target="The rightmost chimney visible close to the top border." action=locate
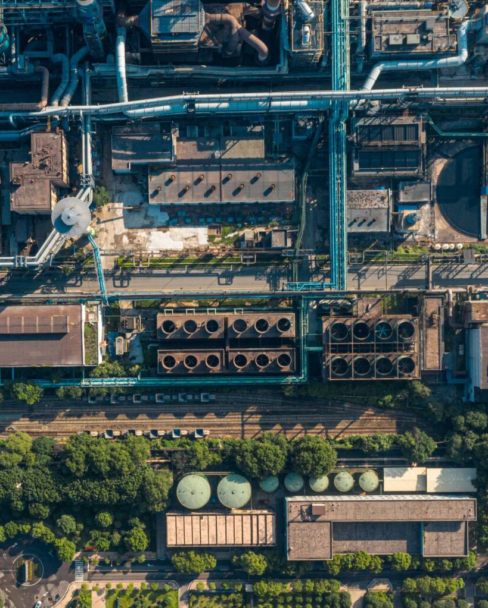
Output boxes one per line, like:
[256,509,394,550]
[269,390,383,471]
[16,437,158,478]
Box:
[254,0,284,40]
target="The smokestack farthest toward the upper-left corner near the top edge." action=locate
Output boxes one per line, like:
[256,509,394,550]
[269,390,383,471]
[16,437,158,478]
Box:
[74,0,111,65]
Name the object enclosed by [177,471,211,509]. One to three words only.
storage tank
